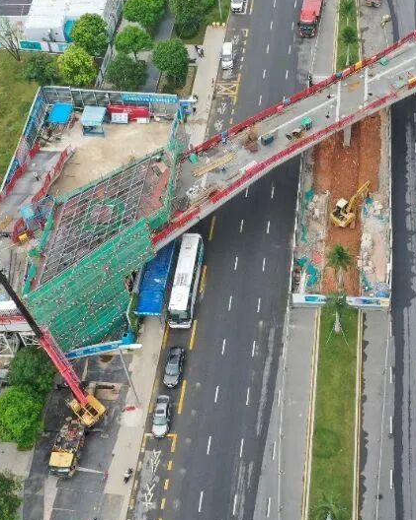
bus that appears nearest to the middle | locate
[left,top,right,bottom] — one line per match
[161,235,203,333]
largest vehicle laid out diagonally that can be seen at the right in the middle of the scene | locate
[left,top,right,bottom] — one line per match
[324,179,375,232]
